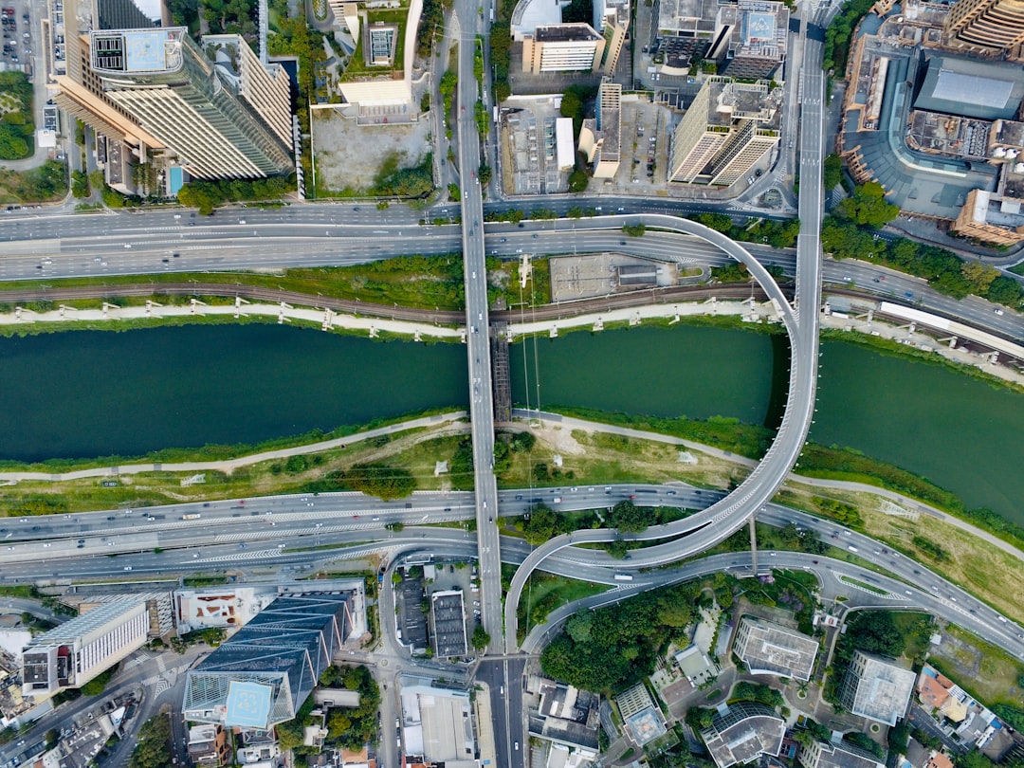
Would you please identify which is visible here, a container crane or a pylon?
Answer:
pylon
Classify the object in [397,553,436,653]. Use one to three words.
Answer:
building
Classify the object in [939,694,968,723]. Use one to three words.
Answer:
house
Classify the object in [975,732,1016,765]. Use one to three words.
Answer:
house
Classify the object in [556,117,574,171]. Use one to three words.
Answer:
shed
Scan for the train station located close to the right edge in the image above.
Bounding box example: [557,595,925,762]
[872,304,1024,364]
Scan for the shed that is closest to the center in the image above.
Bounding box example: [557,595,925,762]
[610,265,663,287]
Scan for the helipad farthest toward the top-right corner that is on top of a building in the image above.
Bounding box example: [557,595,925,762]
[748,13,775,39]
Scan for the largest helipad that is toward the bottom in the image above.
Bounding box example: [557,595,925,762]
[226,680,272,727]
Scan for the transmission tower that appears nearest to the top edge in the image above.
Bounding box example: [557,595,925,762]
[517,264,531,282]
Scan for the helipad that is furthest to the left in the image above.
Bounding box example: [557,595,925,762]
[127,31,167,69]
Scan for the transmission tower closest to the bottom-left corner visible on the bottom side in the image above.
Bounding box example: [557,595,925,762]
[178,471,207,492]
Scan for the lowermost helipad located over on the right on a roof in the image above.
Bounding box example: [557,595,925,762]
[628,708,662,743]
